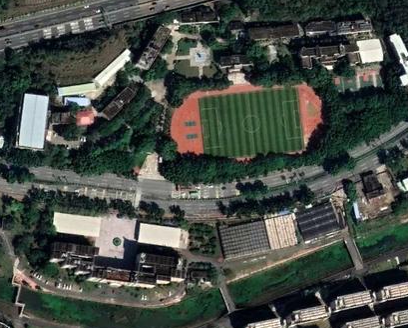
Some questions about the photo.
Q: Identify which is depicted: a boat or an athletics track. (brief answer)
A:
athletics track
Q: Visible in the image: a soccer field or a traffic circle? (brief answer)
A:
soccer field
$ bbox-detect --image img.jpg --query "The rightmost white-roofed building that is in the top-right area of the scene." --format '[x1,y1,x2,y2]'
[389,34,408,88]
